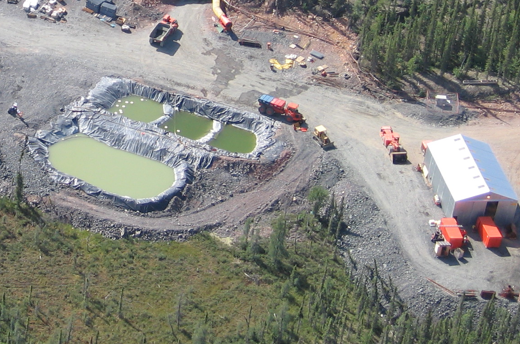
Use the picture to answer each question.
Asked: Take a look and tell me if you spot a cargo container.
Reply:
Yes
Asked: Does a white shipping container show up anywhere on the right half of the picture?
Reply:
No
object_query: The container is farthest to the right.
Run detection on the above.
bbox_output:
[474,214,502,247]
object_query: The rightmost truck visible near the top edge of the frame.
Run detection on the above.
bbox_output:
[148,17,181,45]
